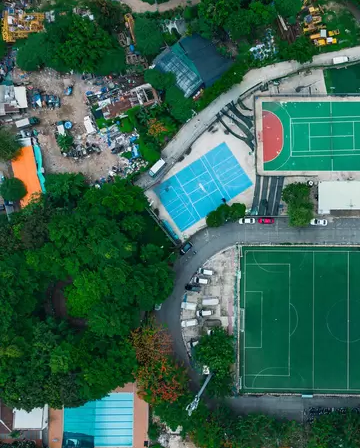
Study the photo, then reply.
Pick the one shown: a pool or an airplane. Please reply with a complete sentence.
The image shows a pool.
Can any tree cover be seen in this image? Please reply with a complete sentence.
Yes, there's tree cover in this view.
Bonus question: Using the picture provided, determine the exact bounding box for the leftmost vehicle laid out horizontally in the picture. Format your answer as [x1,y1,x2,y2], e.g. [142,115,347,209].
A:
[14,114,41,127]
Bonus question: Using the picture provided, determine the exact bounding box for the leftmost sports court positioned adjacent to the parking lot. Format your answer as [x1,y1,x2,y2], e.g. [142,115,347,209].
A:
[153,142,252,231]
